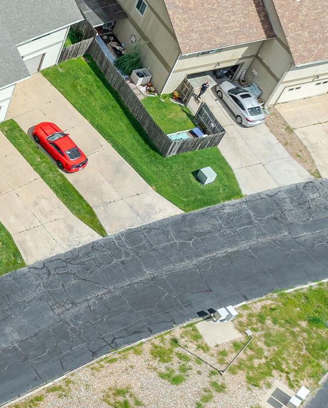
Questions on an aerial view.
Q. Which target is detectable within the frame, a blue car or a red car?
red car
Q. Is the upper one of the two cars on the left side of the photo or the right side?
right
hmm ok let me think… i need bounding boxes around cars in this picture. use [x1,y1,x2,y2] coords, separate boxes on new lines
[218,79,272,127]
[33,120,90,172]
